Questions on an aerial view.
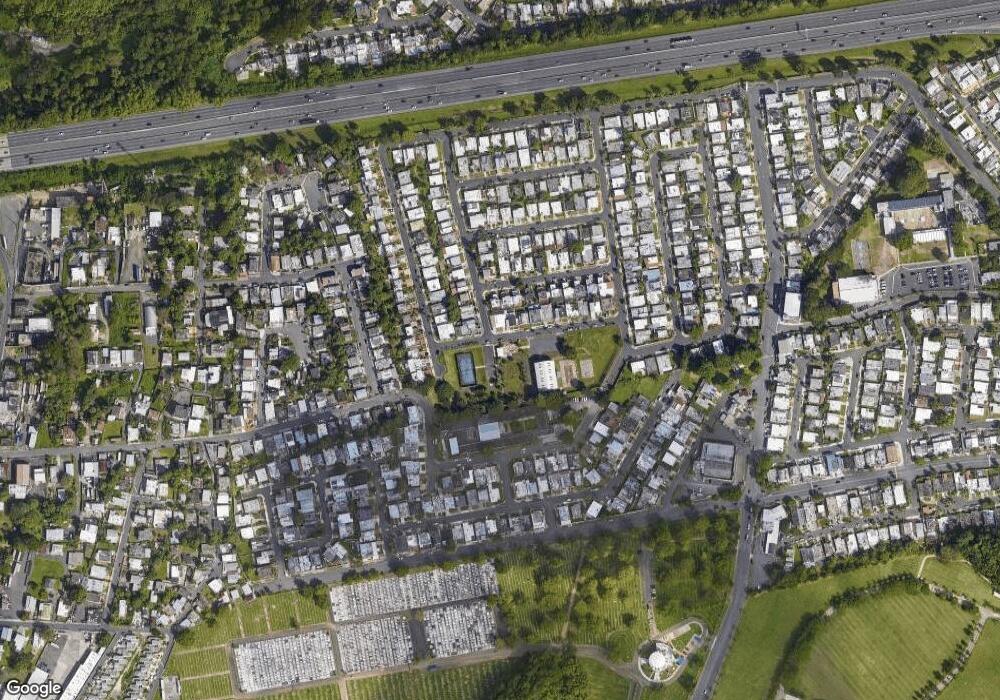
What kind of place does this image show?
residential area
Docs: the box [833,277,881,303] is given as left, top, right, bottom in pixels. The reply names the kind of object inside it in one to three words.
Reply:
building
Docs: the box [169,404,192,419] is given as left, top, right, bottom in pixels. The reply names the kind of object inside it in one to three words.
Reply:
house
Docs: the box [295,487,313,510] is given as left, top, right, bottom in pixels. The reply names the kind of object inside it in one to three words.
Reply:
house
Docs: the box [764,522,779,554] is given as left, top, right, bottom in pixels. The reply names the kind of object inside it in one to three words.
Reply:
building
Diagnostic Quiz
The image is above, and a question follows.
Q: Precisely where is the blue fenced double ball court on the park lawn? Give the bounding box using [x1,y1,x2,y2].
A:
[455,351,477,387]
